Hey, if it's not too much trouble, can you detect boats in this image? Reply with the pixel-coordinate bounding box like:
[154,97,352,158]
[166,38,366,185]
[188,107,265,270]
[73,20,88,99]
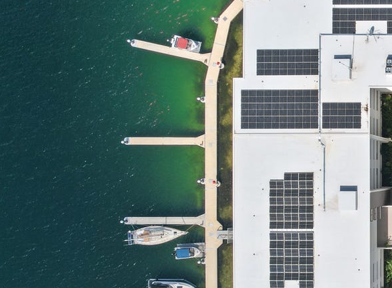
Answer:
[147,283,194,288]
[172,247,202,259]
[124,226,187,245]
[169,35,202,50]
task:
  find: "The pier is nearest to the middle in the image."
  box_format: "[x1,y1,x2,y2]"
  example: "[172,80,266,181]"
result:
[123,134,205,148]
